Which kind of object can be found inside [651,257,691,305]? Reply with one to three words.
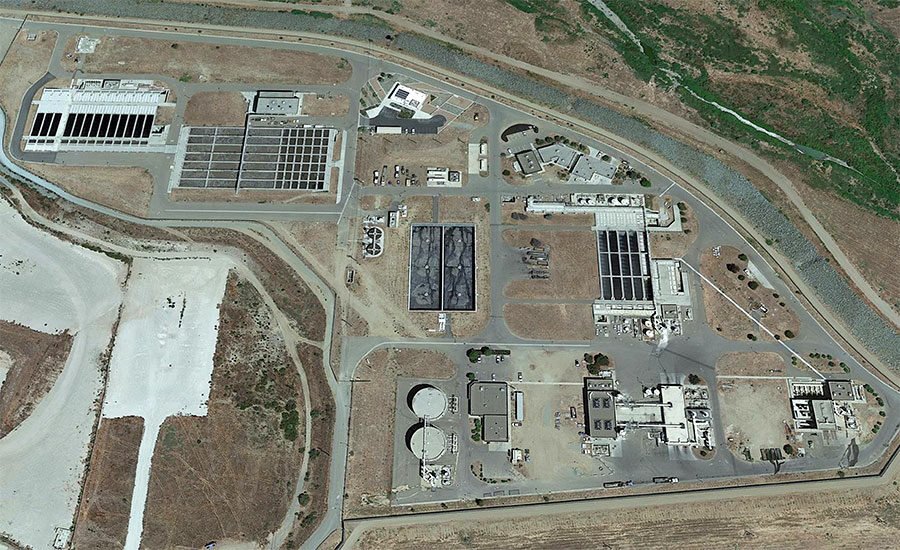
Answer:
building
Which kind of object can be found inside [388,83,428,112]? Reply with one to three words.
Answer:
building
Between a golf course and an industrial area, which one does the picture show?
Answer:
industrial area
